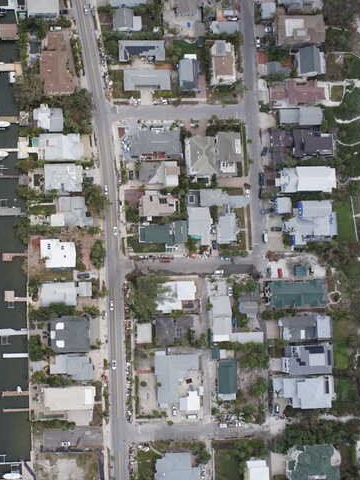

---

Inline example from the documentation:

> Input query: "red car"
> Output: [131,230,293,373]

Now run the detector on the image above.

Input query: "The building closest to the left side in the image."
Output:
[0,24,20,43]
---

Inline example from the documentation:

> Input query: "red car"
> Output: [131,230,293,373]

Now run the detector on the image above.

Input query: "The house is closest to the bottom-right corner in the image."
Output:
[284,441,342,480]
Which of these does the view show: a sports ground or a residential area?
residential area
